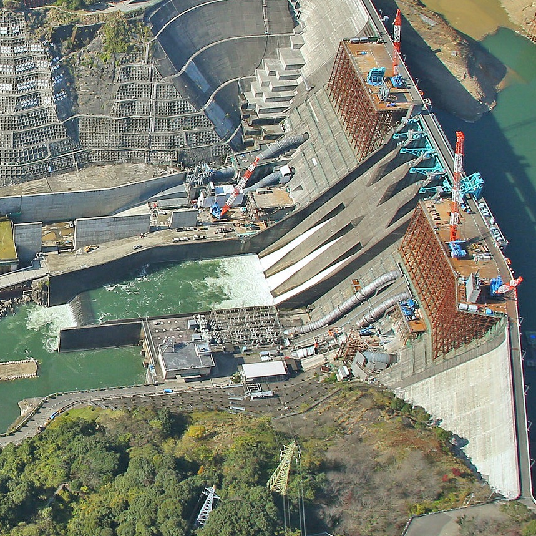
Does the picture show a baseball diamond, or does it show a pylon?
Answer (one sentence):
It is a pylon that can be seen here.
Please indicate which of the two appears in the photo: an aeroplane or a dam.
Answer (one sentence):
The one in the frame is a dam.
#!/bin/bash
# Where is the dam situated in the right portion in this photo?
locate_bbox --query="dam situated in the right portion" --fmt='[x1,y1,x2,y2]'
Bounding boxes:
[248,0,535,500]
